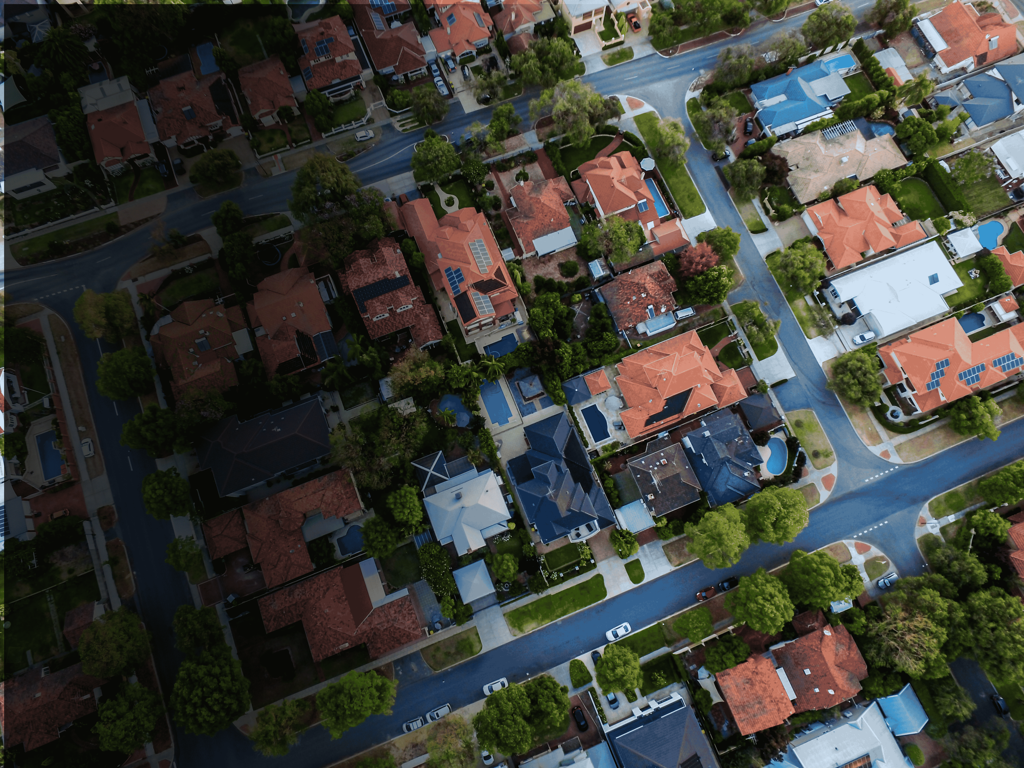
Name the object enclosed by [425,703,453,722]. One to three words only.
car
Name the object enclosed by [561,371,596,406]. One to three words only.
building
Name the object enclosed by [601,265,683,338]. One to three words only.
house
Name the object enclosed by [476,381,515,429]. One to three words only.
swimming pool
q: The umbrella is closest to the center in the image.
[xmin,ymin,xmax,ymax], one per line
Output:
[454,411,472,428]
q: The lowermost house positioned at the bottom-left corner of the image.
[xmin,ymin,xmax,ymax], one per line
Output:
[0,647,119,753]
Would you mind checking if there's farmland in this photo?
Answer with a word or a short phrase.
No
